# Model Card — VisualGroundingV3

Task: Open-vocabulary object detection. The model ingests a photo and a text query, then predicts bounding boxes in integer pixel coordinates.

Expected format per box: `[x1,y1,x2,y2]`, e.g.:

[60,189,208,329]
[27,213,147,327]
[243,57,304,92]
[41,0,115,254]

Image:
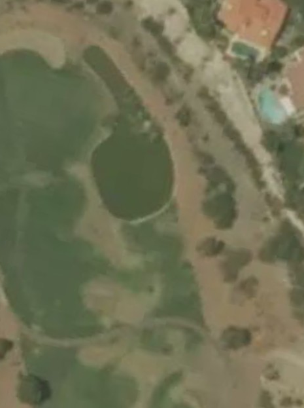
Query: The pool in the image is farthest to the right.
[255,84,295,125]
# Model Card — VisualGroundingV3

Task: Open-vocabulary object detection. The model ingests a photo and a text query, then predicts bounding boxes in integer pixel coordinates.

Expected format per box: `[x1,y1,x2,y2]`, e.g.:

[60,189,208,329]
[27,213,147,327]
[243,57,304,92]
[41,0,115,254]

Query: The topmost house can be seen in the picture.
[218,0,289,49]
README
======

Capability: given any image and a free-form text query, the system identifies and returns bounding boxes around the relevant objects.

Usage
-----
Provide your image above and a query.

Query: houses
[282,46,304,112]
[218,0,289,49]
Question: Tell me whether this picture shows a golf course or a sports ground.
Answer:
golf course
